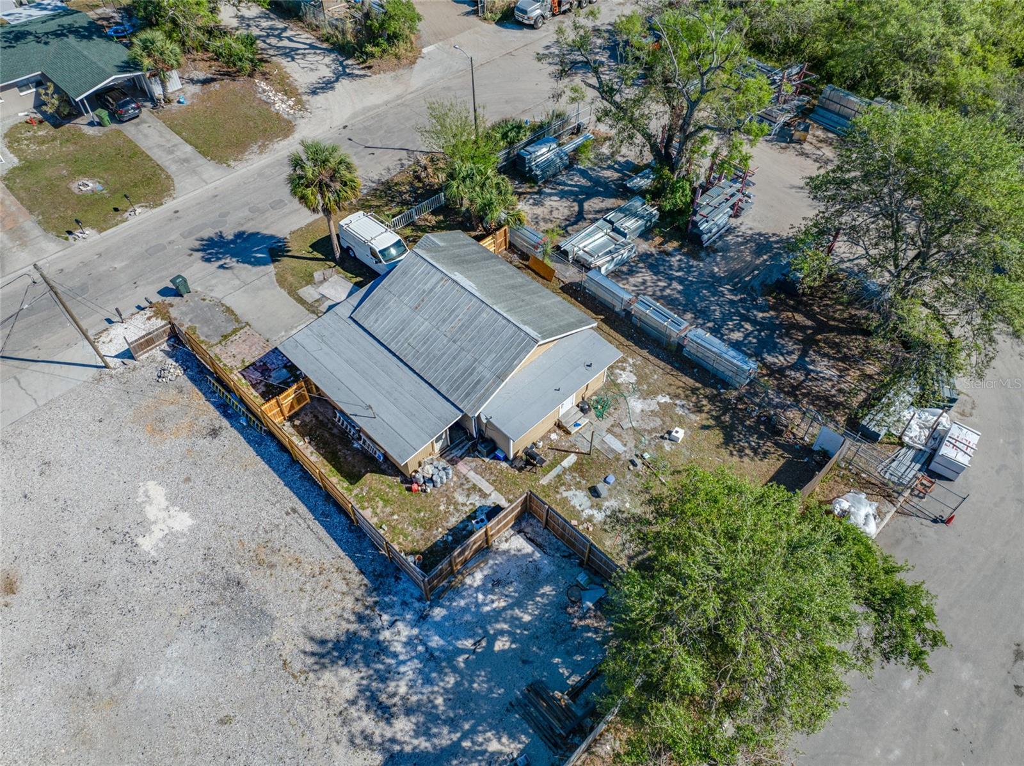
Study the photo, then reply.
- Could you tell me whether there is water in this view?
No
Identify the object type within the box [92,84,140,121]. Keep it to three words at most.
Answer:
car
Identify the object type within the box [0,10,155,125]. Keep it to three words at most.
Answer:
house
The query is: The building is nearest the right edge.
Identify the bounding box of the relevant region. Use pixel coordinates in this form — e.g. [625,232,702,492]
[277,231,617,478]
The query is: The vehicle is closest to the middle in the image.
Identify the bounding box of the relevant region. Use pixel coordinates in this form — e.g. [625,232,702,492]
[340,211,413,278]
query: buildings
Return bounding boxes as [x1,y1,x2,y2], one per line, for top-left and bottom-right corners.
[0,10,155,125]
[277,231,617,478]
